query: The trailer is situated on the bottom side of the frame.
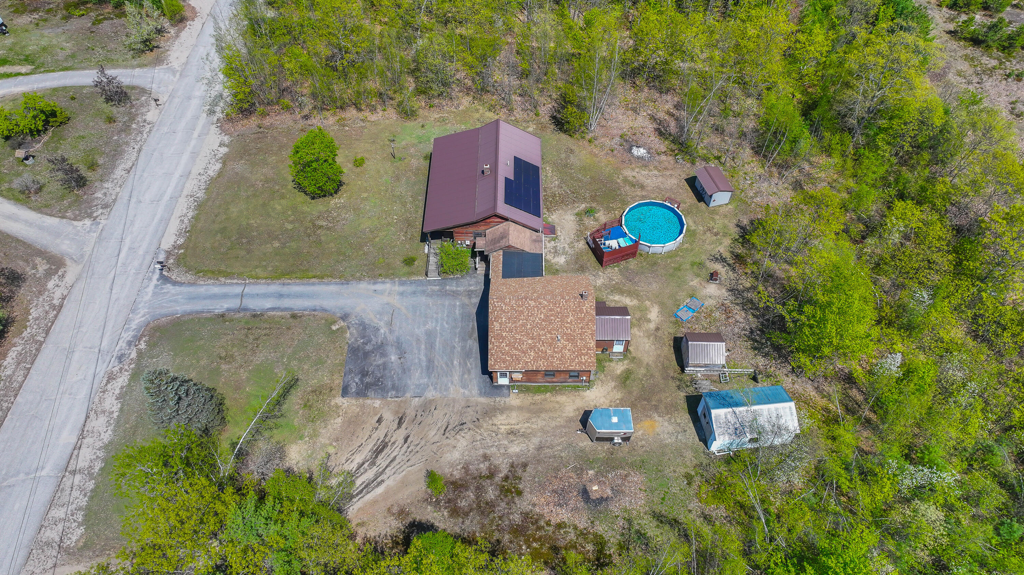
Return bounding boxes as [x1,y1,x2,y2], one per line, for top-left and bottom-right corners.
[576,408,634,448]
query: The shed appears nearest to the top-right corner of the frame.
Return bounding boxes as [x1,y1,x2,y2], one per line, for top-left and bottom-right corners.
[697,163,737,207]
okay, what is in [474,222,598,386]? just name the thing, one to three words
building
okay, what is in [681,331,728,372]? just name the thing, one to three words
shed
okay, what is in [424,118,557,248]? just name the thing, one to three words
house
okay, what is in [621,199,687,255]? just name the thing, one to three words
swimming pool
